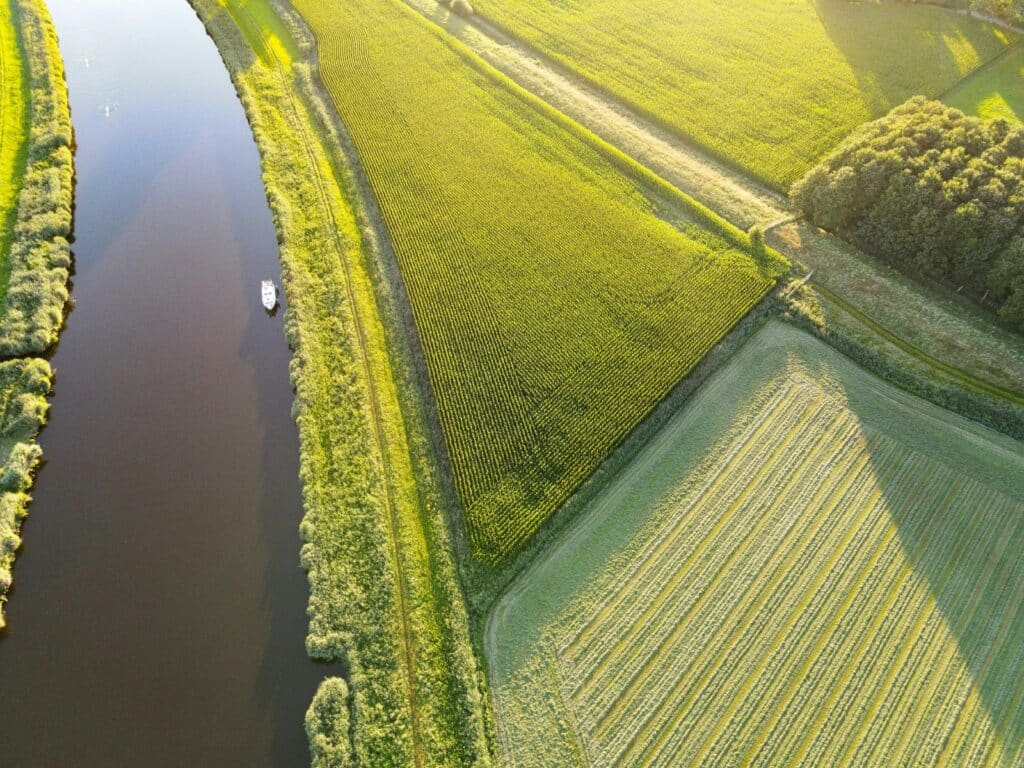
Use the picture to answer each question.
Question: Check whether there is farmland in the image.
Yes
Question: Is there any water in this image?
Yes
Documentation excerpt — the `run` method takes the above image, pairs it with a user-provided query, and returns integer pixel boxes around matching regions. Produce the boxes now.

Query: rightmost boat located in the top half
[261,280,278,313]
